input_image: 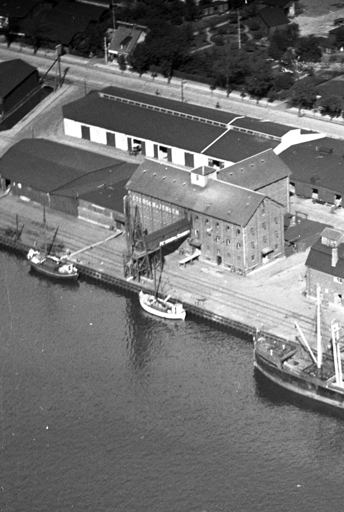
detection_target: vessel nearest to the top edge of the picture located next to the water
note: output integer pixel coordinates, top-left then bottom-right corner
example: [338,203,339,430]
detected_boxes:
[26,215,83,283]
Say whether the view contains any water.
Yes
